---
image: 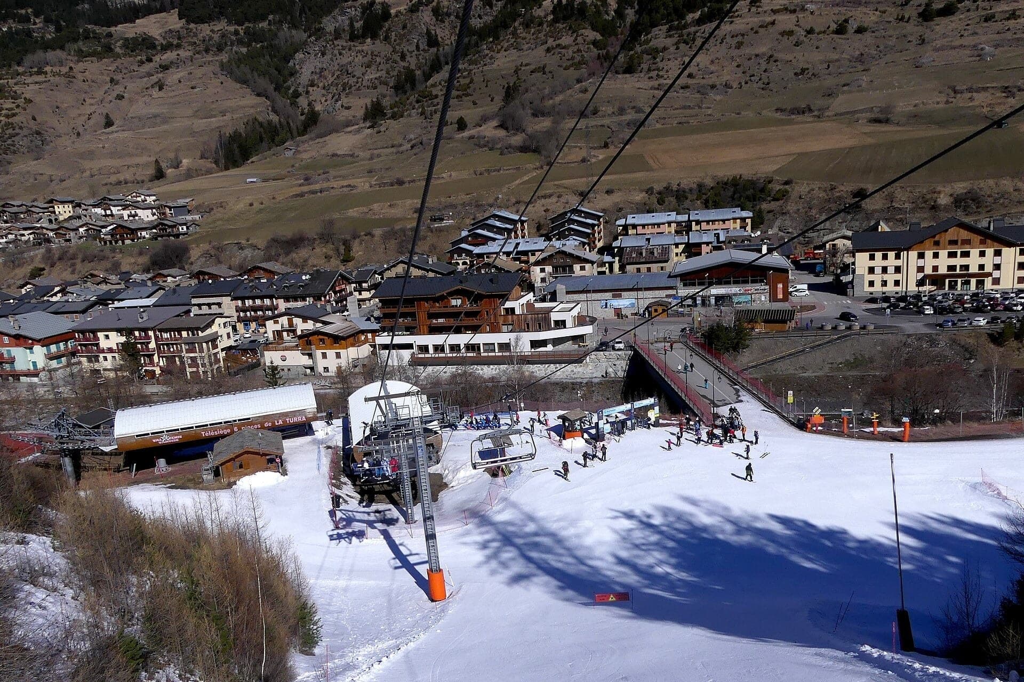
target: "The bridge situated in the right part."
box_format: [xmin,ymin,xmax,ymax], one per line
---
[636,334,799,421]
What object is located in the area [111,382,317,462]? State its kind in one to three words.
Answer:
building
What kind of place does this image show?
residential area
